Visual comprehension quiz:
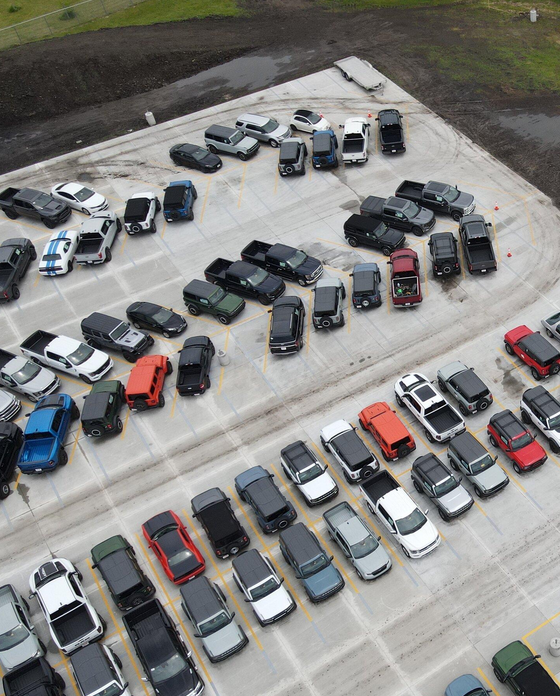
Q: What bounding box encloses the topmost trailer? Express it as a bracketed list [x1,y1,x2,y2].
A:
[336,57,386,95]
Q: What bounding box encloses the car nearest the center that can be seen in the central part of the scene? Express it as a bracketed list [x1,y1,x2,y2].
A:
[269,296,309,358]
